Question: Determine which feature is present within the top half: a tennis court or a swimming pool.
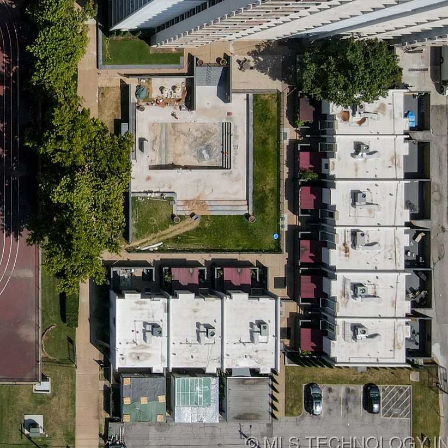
swimming pool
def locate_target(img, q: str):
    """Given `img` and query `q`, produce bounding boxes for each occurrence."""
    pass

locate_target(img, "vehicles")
[365,383,380,412]
[109,421,128,448]
[439,46,448,94]
[307,384,323,413]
